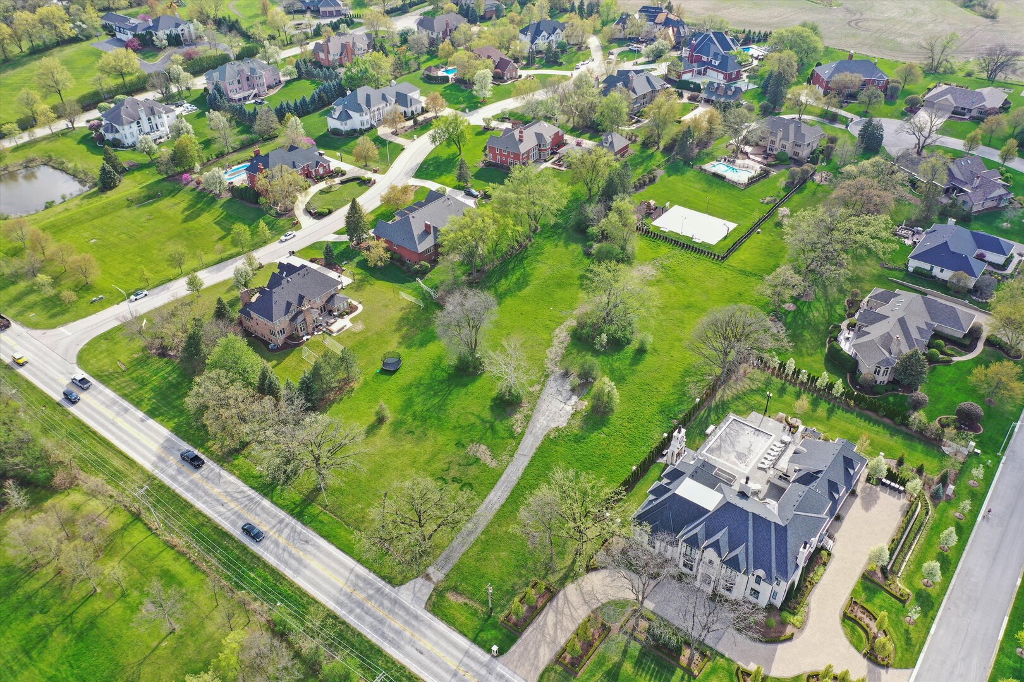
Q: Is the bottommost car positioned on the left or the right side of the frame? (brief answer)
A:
left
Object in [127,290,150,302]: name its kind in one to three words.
vehicle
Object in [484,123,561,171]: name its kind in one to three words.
house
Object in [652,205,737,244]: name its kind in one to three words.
sports court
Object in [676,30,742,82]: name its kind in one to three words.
house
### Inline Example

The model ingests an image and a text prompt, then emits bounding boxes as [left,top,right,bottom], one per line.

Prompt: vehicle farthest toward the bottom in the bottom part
[242,521,269,543]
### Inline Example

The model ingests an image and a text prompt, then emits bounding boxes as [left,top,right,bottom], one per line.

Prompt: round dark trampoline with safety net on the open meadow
[381,355,402,374]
